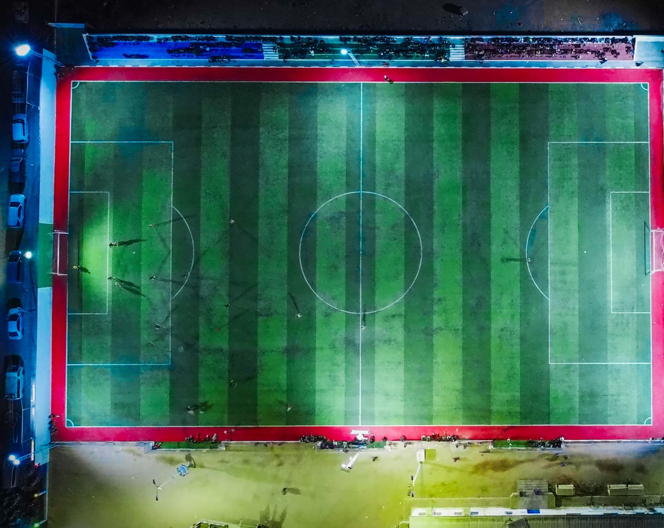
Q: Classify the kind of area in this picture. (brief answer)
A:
sports ground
